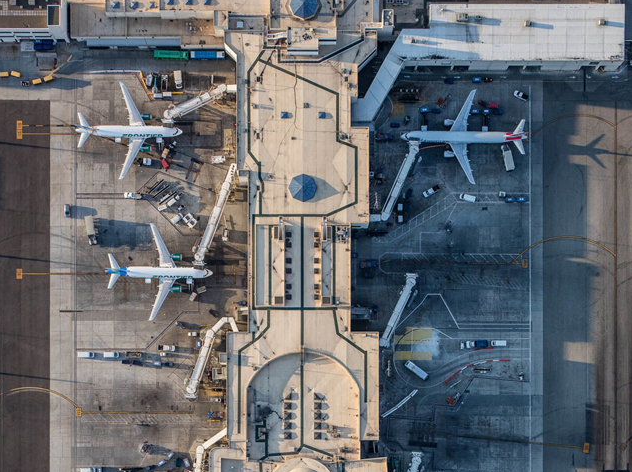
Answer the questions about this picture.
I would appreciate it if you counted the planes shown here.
3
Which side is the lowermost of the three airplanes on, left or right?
left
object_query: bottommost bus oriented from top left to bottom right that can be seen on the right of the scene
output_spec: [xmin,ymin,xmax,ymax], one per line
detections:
[403,358,429,379]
